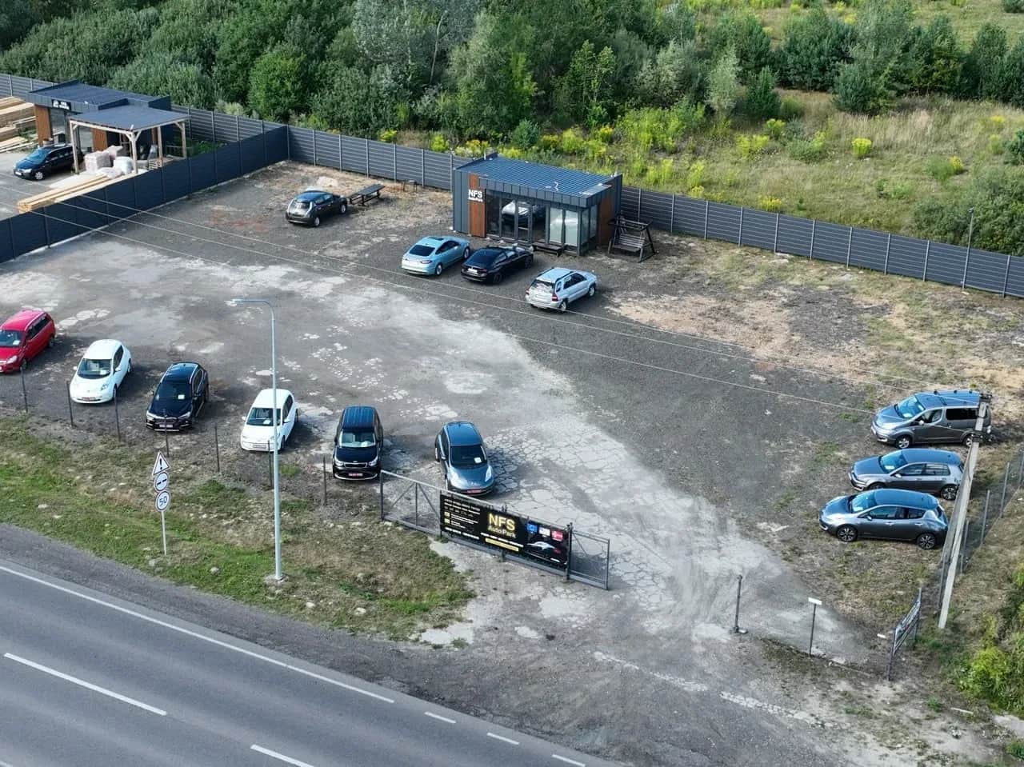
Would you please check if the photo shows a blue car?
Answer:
Yes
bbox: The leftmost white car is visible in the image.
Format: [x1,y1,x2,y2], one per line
[70,338,135,403]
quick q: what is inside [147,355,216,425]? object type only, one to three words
car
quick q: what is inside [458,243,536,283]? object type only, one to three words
car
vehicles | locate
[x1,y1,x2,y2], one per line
[433,417,496,494]
[853,443,974,499]
[70,338,135,403]
[872,387,998,447]
[329,408,390,487]
[0,306,56,371]
[821,487,953,549]
[523,263,600,312]
[283,187,349,227]
[458,243,536,283]
[147,355,216,425]
[399,235,473,276]
[10,138,85,180]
